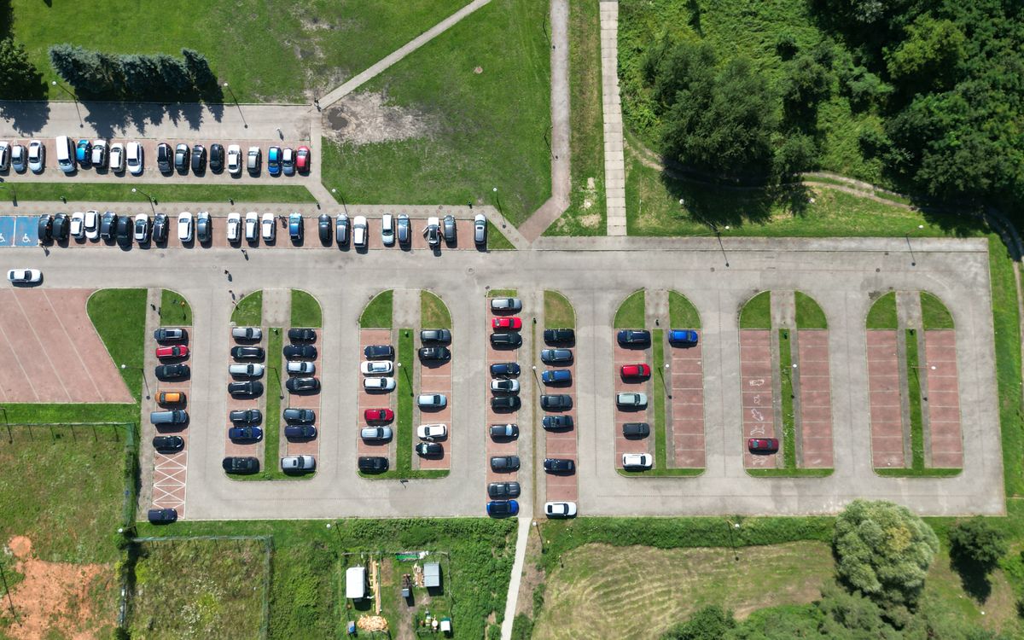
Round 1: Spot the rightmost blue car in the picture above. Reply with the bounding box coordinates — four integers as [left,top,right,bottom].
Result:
[668,329,698,344]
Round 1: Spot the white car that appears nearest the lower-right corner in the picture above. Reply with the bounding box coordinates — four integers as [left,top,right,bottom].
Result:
[622,453,652,468]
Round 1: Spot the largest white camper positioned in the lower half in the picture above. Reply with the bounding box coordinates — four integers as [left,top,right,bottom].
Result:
[346,557,369,598]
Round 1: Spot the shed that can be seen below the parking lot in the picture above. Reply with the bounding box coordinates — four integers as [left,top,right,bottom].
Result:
[424,560,440,586]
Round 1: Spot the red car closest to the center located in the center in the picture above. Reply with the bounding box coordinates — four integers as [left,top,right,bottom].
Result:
[492,316,522,330]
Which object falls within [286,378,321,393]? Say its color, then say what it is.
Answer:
black car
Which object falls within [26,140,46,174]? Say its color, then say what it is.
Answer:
white car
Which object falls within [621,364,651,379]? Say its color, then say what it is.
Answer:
red car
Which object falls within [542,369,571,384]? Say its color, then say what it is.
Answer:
blue car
